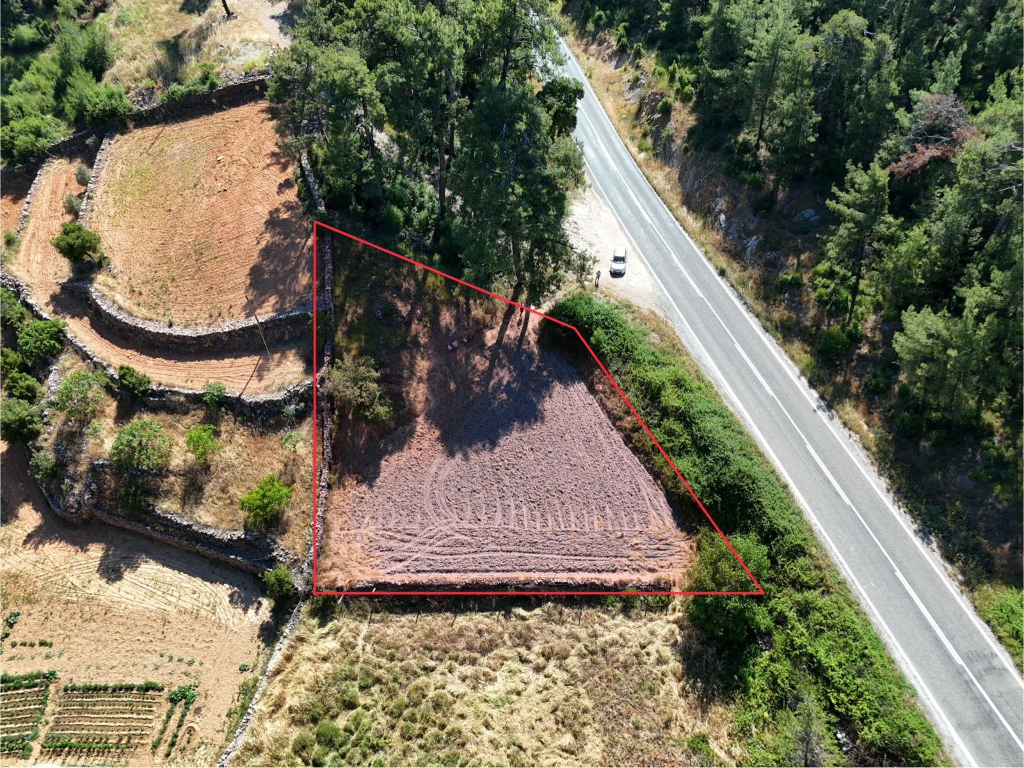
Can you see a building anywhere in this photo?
No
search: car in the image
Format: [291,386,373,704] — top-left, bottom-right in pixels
[610,245,628,272]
